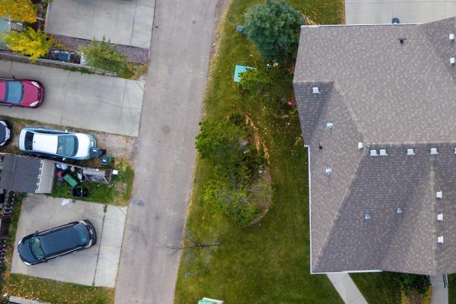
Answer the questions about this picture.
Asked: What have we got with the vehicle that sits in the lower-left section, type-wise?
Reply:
car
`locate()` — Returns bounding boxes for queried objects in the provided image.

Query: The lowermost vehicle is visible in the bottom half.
[9,217,96,268]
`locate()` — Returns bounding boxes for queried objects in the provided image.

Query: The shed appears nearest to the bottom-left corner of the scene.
[1,152,73,193]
